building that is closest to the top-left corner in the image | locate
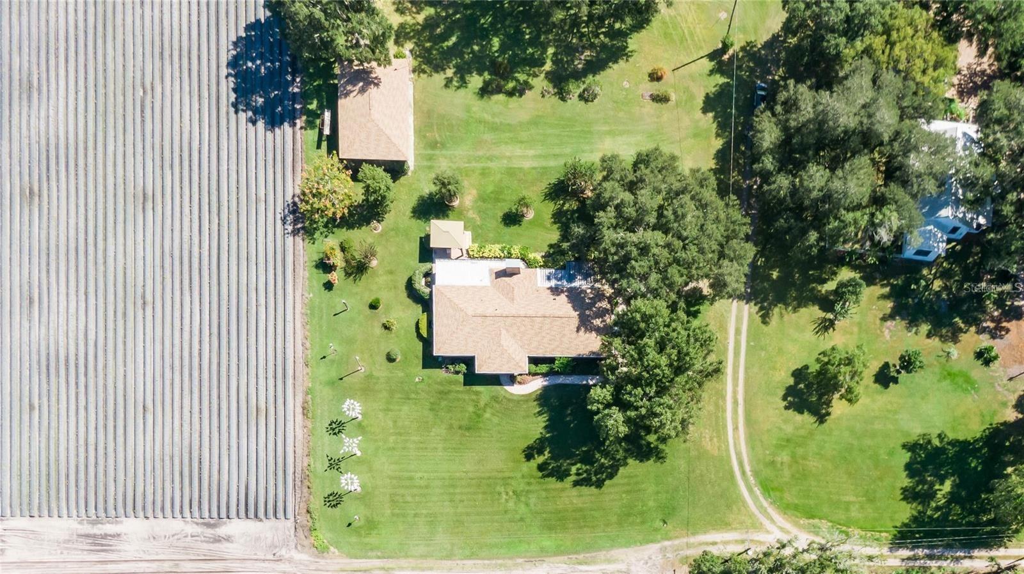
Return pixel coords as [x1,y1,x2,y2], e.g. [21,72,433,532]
[339,58,410,171]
